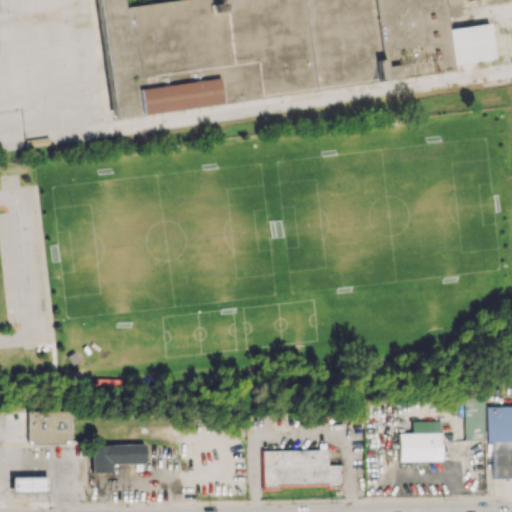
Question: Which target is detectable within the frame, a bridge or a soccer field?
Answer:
soccer field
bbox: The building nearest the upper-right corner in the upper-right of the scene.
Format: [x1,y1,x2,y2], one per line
[452,22,499,66]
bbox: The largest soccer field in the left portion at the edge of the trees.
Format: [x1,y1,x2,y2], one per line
[50,161,279,320]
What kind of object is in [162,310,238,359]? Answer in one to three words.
soccer field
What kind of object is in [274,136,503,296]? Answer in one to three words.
soccer field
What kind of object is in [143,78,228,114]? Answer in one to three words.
barn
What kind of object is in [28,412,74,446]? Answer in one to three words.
building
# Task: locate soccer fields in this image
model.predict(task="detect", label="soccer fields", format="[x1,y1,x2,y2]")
[50,161,279,320]
[242,300,318,350]
[274,136,503,296]
[162,310,238,359]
